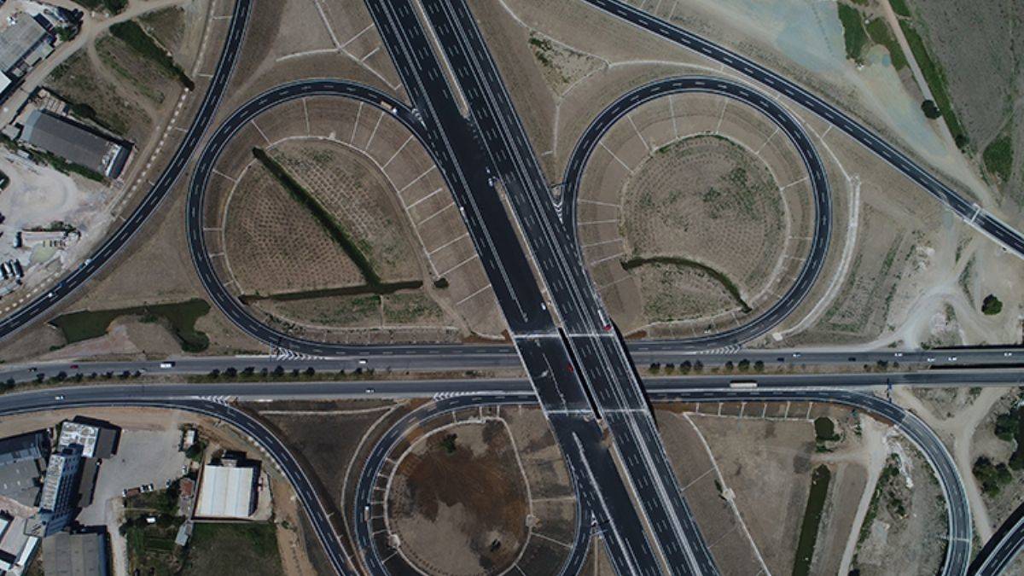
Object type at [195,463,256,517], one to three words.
building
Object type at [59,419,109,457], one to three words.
house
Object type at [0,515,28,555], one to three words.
building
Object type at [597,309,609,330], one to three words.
vehicle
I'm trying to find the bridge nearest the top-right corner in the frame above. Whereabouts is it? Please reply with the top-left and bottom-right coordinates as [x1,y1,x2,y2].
[965,206,1024,258]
